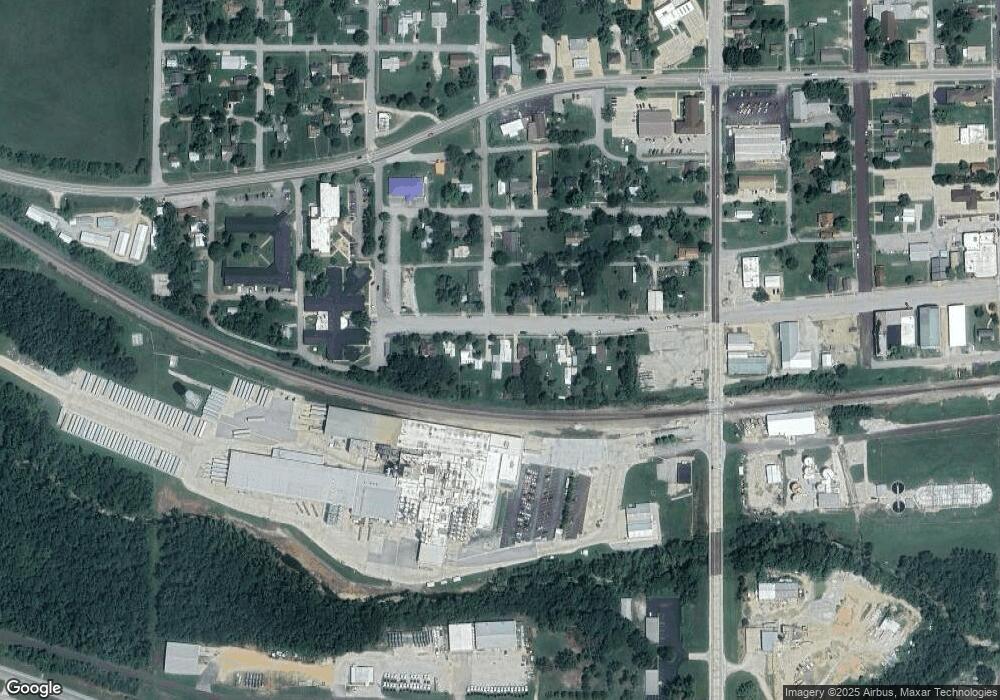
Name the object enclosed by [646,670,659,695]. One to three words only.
building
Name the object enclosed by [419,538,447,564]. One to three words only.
building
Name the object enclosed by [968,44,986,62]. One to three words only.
house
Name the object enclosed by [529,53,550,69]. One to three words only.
house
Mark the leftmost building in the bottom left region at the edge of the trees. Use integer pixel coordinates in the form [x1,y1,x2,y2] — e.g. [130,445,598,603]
[165,642,199,675]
